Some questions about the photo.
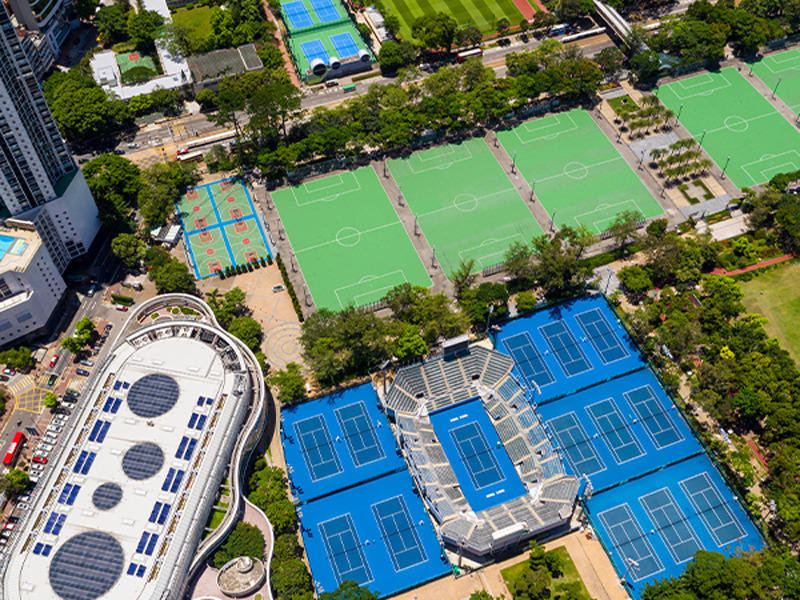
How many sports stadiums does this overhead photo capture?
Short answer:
1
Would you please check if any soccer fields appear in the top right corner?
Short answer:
Yes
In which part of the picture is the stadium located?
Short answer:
bottom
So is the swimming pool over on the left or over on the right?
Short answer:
left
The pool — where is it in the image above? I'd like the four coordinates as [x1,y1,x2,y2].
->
[0,236,27,259]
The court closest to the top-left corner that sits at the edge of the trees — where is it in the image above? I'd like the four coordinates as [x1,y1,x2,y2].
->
[114,48,163,83]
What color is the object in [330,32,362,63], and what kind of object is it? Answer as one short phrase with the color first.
blue tennis court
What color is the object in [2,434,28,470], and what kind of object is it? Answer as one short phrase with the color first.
red bus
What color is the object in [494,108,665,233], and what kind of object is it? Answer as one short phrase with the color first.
green soccer field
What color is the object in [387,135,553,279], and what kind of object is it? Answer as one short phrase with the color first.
green soccer field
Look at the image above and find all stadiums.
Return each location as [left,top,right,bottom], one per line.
[386,344,580,562]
